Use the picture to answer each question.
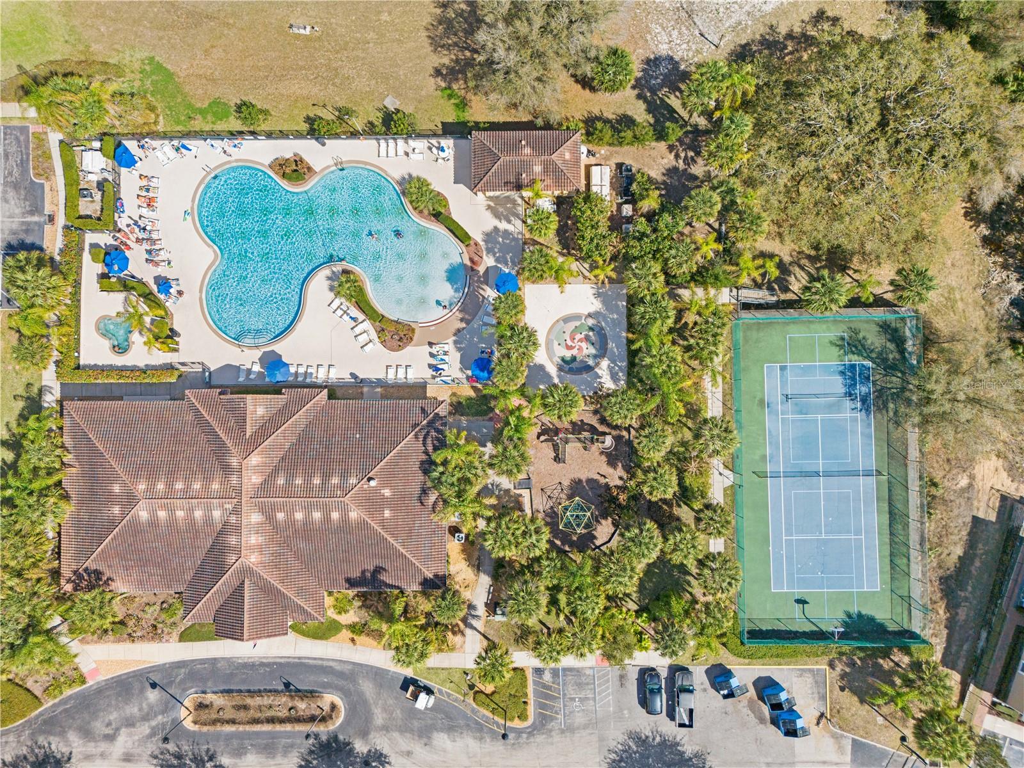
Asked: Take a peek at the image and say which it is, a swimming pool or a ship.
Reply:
swimming pool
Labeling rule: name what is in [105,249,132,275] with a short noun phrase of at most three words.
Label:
umbrella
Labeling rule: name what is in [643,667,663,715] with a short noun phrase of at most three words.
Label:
car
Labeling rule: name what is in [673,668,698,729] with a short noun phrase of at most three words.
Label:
truck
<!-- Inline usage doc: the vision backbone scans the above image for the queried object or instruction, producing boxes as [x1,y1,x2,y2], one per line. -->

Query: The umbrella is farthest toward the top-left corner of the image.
[113,143,141,170]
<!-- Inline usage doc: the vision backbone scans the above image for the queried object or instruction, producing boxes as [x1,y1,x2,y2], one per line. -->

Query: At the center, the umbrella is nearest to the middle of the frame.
[470,356,494,381]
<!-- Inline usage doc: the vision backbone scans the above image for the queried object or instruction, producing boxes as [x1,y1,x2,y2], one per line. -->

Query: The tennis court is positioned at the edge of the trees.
[733,318,912,634]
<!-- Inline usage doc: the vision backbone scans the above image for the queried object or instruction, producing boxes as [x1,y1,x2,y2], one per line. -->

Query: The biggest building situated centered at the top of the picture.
[471,130,584,194]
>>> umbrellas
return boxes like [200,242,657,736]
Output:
[105,249,132,275]
[470,356,494,381]
[265,358,291,383]
[113,143,141,170]
[495,271,518,294]
[159,279,179,295]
